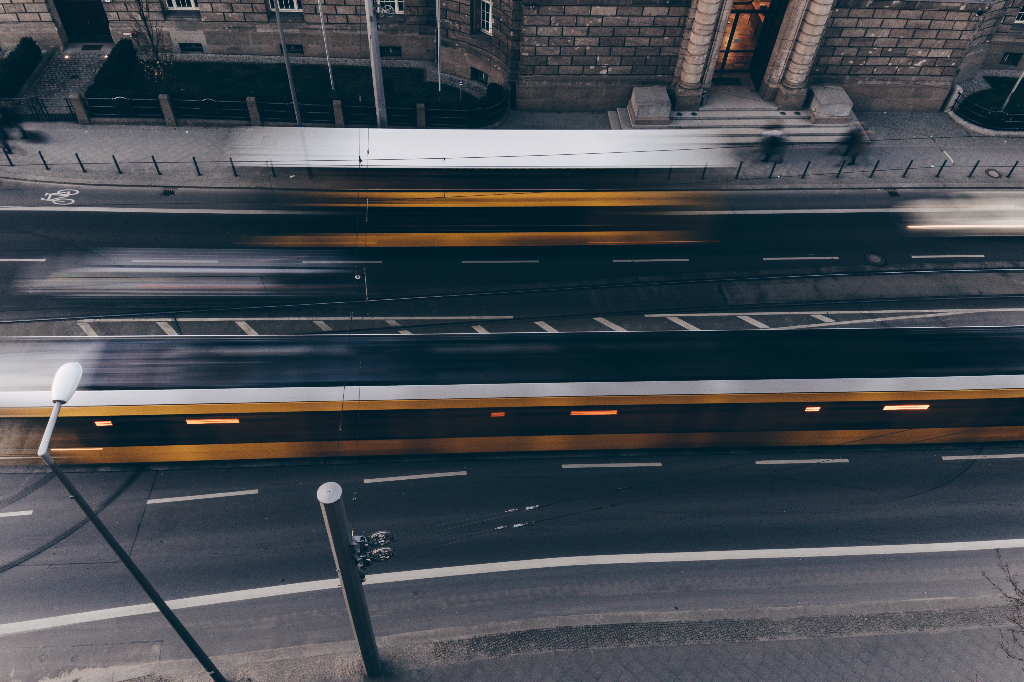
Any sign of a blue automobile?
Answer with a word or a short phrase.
No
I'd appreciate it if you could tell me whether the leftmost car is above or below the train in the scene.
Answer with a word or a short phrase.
above it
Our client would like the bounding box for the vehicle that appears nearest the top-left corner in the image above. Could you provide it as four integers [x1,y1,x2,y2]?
[114,241,264,301]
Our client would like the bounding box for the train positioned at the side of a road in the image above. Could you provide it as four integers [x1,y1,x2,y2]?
[5,323,1024,465]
